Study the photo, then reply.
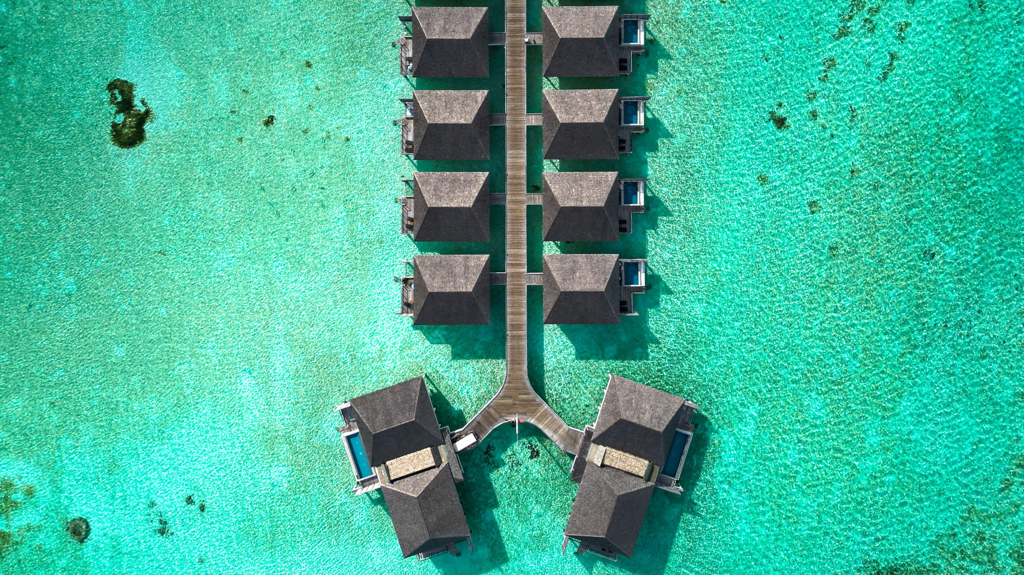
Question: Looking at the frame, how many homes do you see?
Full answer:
In total, 10 homes can be seen.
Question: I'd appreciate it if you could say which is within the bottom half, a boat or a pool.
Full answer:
The feature located within the bottom half is a pool.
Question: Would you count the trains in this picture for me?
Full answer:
The photo contains no trains.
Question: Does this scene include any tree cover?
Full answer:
No, tree cover can't be seen anywhere here.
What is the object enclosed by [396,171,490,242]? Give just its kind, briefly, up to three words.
house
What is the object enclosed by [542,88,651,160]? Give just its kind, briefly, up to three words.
house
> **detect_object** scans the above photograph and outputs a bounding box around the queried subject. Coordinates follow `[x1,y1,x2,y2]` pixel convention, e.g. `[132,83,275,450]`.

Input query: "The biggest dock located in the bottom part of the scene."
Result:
[449,370,584,456]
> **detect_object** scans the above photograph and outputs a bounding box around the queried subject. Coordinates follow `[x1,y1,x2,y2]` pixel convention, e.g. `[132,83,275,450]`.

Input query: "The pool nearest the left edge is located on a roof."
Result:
[344,428,376,479]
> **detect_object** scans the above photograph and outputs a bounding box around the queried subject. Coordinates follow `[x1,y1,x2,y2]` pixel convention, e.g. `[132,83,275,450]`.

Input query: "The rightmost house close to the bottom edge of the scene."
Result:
[560,371,701,561]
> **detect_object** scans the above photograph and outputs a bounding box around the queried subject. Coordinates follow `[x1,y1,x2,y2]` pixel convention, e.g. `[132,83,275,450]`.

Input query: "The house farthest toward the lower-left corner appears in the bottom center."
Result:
[333,371,474,561]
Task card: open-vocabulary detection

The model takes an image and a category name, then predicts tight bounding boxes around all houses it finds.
[396,254,490,325]
[395,89,490,161]
[542,170,651,242]
[542,88,651,160]
[333,371,474,561]
[396,171,490,242]
[543,253,652,325]
[542,5,651,77]
[394,6,489,78]
[560,371,701,561]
